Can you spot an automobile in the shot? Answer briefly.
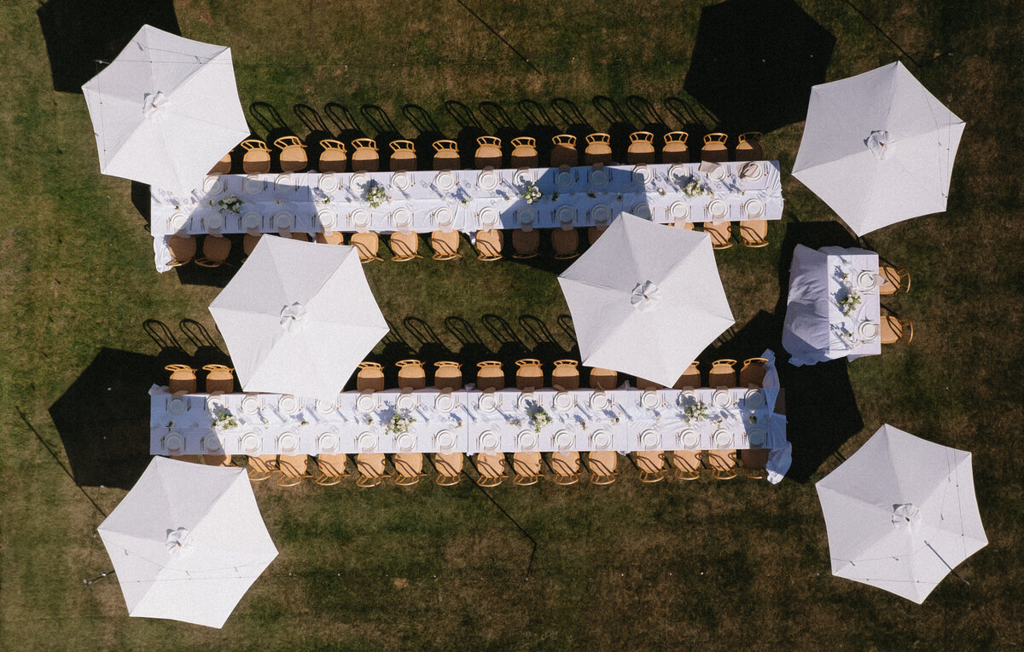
No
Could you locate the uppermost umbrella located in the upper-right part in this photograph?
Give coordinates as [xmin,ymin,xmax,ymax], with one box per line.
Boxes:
[792,61,965,236]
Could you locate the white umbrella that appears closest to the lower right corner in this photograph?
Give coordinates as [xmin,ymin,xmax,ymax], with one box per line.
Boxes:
[816,424,988,604]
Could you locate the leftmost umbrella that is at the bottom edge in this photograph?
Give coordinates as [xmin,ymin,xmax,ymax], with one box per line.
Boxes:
[98,456,279,629]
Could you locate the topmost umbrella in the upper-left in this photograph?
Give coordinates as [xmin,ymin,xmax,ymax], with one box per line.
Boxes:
[83,24,250,195]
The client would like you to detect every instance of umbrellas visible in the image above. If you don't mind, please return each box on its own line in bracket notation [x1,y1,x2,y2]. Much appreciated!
[816,424,988,604]
[792,61,965,236]
[209,234,390,401]
[558,212,735,388]
[98,456,279,629]
[83,24,250,195]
